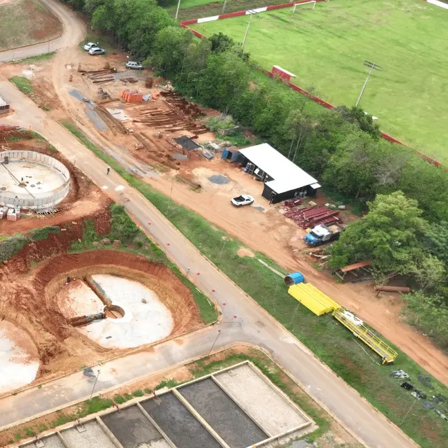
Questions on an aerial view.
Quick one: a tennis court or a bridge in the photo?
bridge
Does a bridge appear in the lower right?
Yes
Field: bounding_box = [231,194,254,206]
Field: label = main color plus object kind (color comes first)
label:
white vehicle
